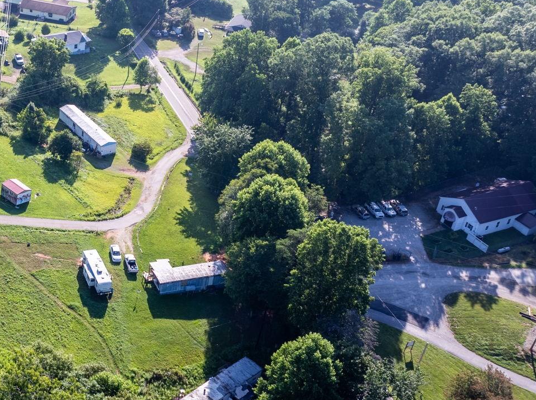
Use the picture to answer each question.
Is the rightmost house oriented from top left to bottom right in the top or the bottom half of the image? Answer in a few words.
top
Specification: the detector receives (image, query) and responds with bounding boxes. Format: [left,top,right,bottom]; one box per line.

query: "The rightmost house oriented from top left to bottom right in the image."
[58,104,118,158]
